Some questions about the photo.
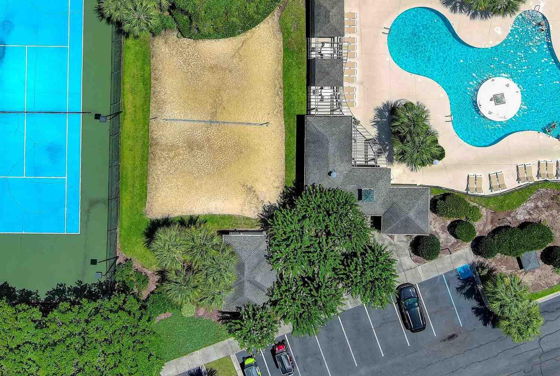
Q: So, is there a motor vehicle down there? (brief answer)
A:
Yes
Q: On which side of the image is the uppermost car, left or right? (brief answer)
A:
right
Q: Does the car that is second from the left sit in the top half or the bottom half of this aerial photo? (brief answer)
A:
bottom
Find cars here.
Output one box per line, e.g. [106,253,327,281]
[268,334,298,376]
[240,352,265,376]
[395,281,426,335]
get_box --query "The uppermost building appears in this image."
[314,0,345,38]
